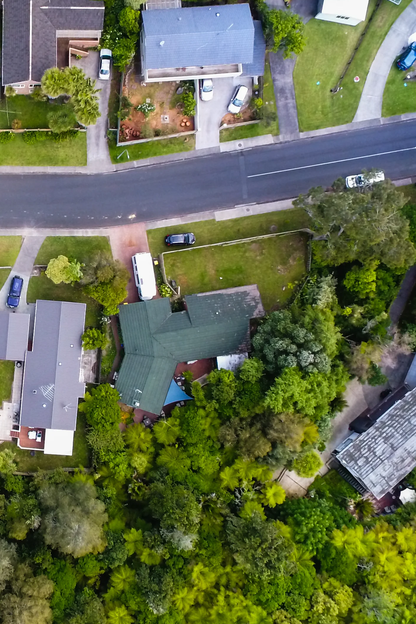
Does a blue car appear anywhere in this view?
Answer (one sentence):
Yes, a blue car appears in the view.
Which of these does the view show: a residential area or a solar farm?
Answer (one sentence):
This looks like a residential area.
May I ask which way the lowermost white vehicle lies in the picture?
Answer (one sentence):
The lowermost white vehicle runs from top to bottom in the image.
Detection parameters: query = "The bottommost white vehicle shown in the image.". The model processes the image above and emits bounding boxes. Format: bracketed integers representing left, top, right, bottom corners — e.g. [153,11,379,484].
[135,252,155,299]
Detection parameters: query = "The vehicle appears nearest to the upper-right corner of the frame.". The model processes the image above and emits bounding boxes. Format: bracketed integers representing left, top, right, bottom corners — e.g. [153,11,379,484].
[399,42,416,69]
